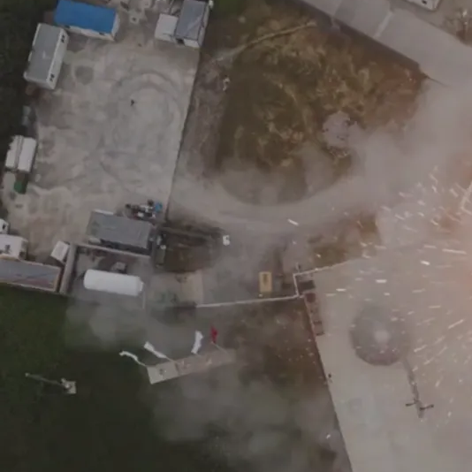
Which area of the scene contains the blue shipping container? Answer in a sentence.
The blue shipping container sits in the top left section of the image.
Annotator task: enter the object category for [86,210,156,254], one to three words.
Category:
shed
